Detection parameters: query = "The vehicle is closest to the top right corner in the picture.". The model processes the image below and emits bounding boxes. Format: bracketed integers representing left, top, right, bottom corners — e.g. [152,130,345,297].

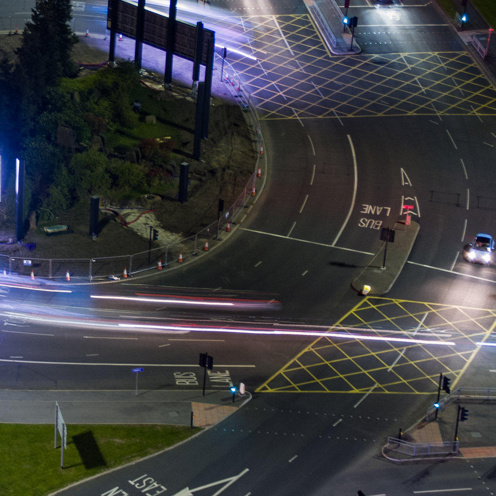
[470,223,496,259]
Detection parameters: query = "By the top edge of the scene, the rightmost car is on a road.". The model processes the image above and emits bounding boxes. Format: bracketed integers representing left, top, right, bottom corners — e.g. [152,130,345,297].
[214,18,249,44]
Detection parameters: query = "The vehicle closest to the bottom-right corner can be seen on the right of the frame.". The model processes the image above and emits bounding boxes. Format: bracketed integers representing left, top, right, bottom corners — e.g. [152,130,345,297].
[381,325,443,352]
